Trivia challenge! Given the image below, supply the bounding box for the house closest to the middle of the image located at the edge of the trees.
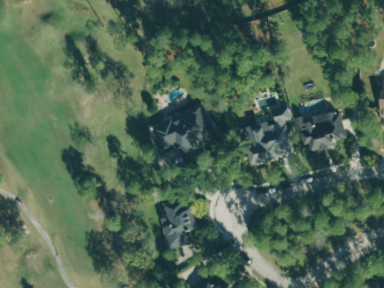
[150,106,206,155]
